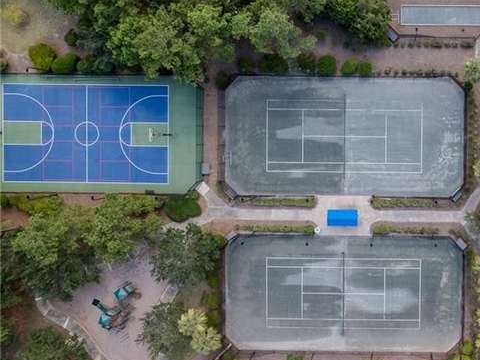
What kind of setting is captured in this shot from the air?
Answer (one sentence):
The area seen from above is a sports ground.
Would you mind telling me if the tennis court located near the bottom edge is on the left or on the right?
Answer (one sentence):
The tennis court located near the bottom edge appears in the right half of the scene.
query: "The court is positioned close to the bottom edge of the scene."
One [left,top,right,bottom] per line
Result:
[224,234,465,353]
